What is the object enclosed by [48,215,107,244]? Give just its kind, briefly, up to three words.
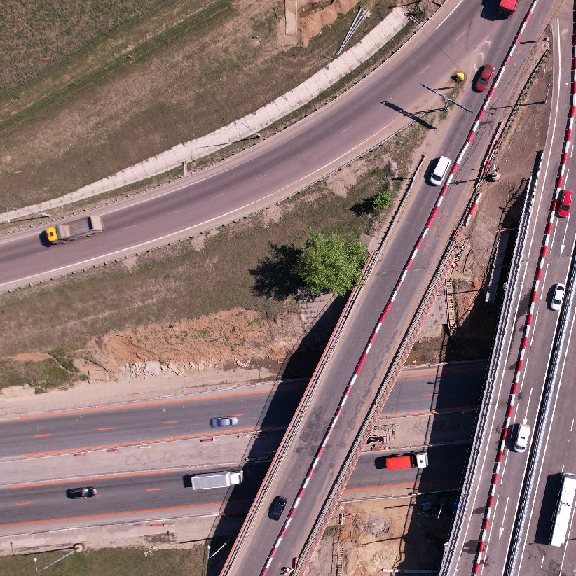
truck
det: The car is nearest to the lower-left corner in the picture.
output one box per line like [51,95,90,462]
[68,485,95,498]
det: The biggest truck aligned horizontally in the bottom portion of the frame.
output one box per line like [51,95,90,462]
[189,469,247,490]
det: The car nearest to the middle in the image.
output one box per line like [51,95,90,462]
[210,415,238,429]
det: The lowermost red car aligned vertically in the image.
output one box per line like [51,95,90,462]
[557,189,572,218]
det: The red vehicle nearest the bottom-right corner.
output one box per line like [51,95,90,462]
[384,452,430,470]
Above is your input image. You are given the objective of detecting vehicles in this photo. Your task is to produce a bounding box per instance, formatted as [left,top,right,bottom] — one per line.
[429,155,452,188]
[48,215,107,244]
[552,282,565,311]
[269,494,288,520]
[497,0,520,17]
[557,189,572,218]
[210,415,238,429]
[189,469,247,490]
[68,485,95,498]
[384,452,430,470]
[549,467,576,547]
[514,421,529,453]
[473,63,494,94]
